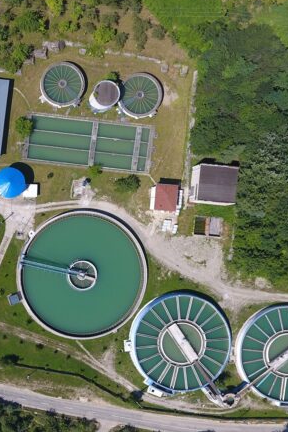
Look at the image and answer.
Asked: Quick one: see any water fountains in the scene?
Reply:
No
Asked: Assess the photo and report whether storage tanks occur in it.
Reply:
Yes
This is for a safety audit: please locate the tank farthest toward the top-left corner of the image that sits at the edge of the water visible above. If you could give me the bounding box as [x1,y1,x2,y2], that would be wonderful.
[36,61,87,113]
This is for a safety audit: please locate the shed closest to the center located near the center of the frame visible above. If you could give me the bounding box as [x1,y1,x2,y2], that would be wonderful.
[152,184,178,212]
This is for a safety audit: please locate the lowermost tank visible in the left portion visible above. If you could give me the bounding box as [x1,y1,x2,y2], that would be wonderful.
[17,208,148,340]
